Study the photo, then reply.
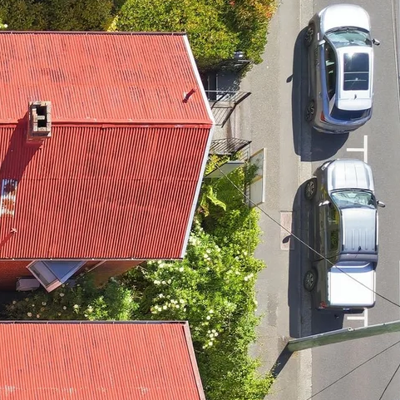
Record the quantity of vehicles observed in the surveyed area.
2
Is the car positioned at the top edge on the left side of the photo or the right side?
right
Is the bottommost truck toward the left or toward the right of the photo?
right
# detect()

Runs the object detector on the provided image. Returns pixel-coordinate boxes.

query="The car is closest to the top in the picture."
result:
[306,5,381,135]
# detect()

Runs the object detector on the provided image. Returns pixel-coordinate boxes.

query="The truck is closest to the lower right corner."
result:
[305,159,382,312]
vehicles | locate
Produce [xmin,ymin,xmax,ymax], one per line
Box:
[306,5,381,135]
[305,159,382,312]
